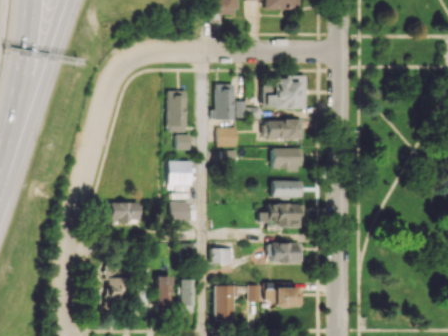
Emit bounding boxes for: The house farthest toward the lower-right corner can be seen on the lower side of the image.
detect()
[277,288,303,309]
